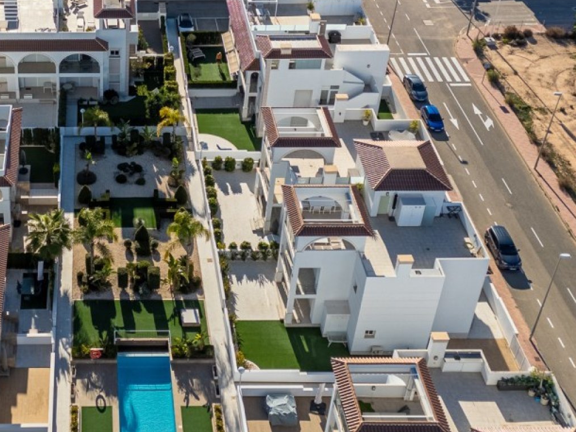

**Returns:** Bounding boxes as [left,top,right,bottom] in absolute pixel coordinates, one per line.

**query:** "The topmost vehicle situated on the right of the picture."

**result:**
[402,68,430,99]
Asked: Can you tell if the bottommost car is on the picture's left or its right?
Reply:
right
